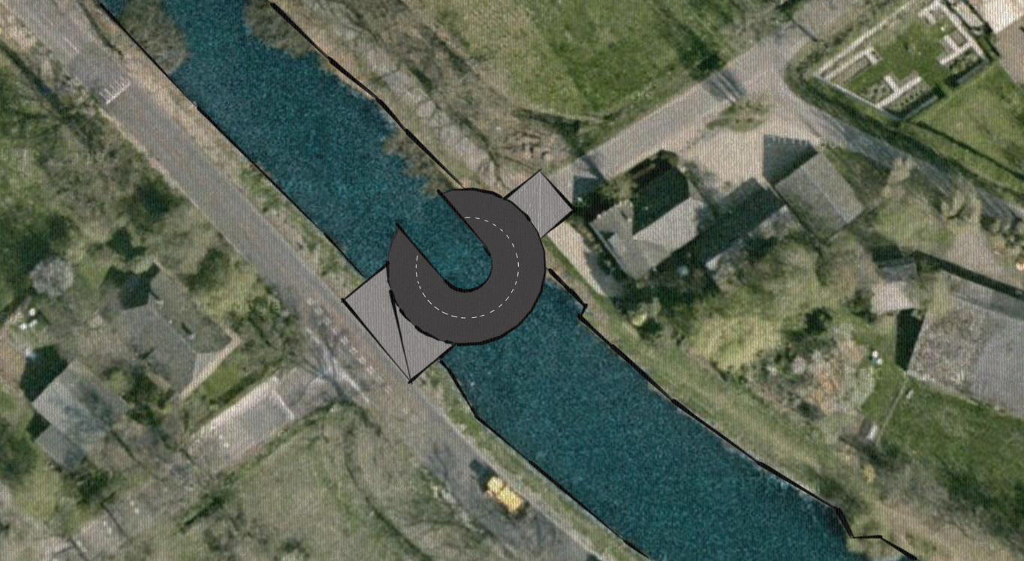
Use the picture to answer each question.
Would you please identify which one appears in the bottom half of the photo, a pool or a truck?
truck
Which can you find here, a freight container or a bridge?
bridge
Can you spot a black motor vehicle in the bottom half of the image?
No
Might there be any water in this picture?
Yes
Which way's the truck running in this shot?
at an angle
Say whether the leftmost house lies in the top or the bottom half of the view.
bottom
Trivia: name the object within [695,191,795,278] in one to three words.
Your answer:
barn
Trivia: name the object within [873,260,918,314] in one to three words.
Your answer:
shed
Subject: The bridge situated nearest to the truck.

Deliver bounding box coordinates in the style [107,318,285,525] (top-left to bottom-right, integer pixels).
[386,186,546,347]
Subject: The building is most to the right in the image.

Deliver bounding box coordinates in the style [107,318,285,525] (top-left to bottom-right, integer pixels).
[909,299,1024,421]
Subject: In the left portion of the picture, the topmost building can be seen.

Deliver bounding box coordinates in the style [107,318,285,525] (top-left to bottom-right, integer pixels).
[115,271,230,394]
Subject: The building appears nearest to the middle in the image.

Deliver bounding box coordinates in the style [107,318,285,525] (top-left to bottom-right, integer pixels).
[591,175,701,279]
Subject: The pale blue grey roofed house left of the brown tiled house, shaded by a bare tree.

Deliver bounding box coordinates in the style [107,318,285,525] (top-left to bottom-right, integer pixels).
[31,360,125,469]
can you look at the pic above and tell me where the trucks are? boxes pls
[481,475,525,519]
